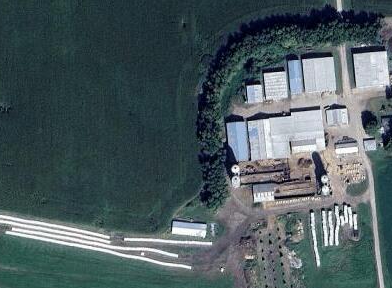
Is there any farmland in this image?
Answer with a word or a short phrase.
Yes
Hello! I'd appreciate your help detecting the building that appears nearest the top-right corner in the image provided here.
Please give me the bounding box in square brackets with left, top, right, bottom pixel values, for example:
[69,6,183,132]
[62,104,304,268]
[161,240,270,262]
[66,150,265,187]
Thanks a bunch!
[353,51,389,89]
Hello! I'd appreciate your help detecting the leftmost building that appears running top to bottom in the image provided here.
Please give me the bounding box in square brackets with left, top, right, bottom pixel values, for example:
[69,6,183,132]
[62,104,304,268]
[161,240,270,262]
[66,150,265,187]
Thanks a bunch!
[227,121,248,161]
